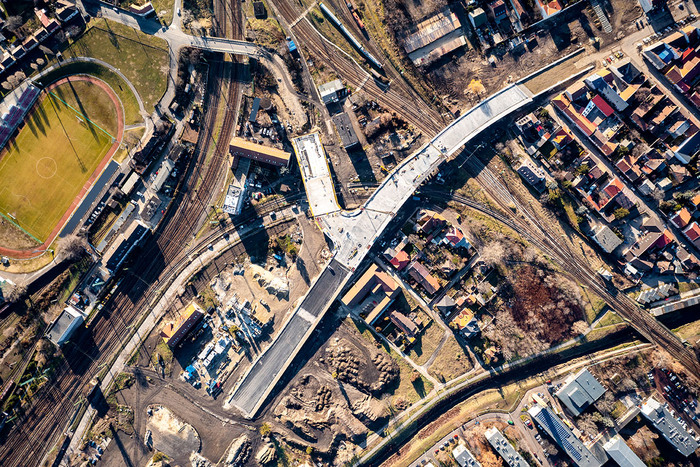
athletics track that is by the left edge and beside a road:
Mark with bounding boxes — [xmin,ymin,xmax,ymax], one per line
[0,75,124,258]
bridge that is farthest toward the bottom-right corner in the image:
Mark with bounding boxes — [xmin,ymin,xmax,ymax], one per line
[632,311,696,375]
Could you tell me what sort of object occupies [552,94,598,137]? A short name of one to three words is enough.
house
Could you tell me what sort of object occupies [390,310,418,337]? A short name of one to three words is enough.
house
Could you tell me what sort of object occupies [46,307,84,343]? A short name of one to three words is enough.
building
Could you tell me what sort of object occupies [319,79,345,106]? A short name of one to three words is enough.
building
